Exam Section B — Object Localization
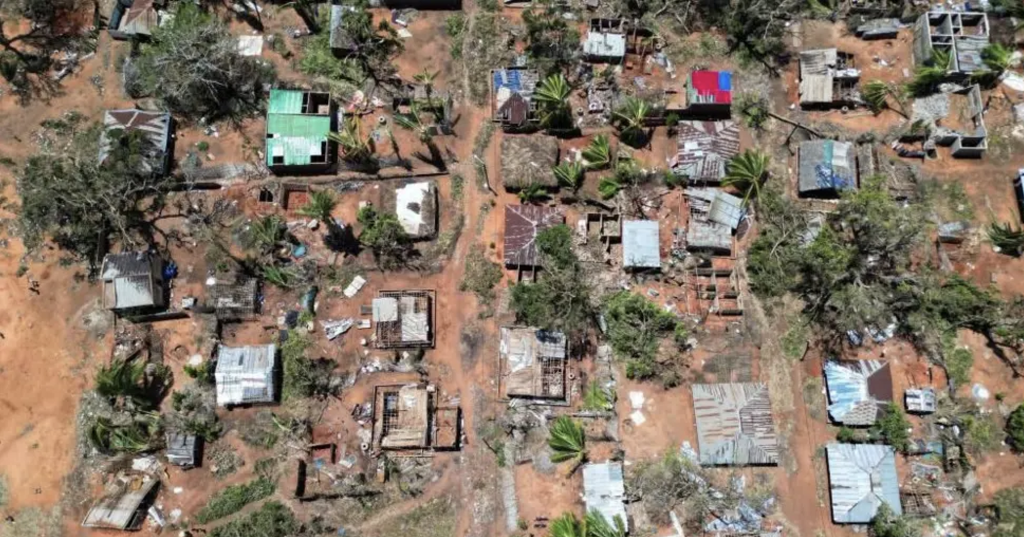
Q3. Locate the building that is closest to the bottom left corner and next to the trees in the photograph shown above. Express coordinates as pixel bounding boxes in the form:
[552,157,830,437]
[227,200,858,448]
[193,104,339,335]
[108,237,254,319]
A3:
[84,477,160,527]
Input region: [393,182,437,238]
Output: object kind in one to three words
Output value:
house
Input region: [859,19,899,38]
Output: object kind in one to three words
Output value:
building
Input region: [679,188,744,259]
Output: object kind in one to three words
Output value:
house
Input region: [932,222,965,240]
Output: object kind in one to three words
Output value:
shed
